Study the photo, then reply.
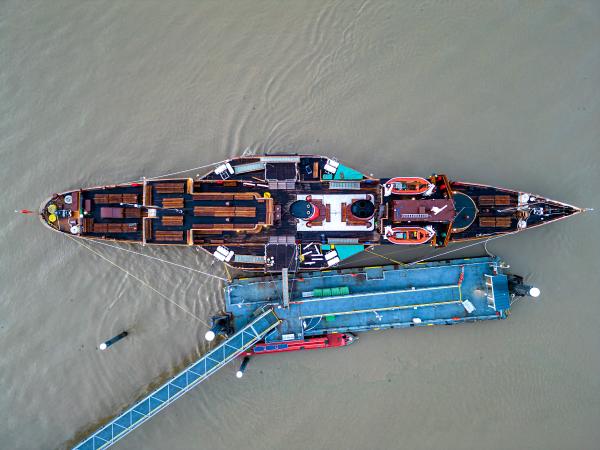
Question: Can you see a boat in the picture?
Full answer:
Yes, a boat can be made out from above.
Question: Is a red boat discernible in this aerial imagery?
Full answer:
Yes, you can see a red boat in this photo.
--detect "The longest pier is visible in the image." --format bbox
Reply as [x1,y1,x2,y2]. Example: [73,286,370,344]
[212,255,526,344]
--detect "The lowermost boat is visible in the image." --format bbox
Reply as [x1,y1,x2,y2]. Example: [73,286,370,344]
[238,333,360,356]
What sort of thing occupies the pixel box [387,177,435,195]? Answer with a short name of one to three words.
boat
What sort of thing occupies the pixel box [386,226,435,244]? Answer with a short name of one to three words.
boat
